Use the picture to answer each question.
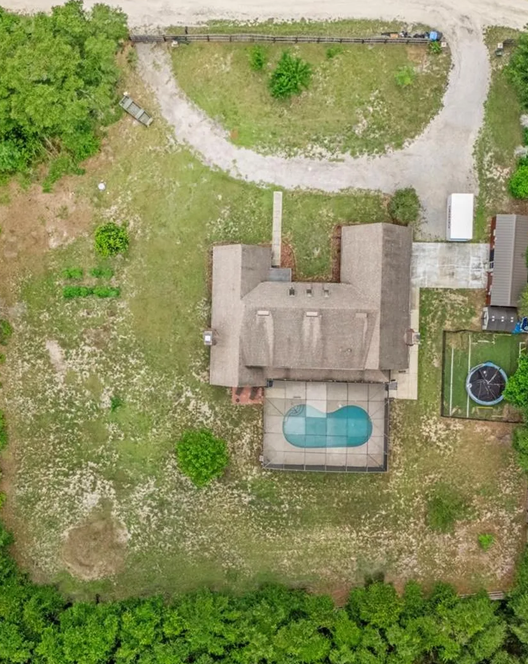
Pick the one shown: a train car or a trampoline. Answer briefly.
trampoline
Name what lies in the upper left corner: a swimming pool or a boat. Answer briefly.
boat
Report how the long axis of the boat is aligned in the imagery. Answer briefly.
at an angle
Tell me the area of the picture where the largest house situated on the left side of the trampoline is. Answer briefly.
center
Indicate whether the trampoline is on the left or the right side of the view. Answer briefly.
right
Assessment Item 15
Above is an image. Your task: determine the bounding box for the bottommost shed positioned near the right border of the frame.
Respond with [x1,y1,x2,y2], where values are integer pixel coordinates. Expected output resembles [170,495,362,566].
[483,307,522,332]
